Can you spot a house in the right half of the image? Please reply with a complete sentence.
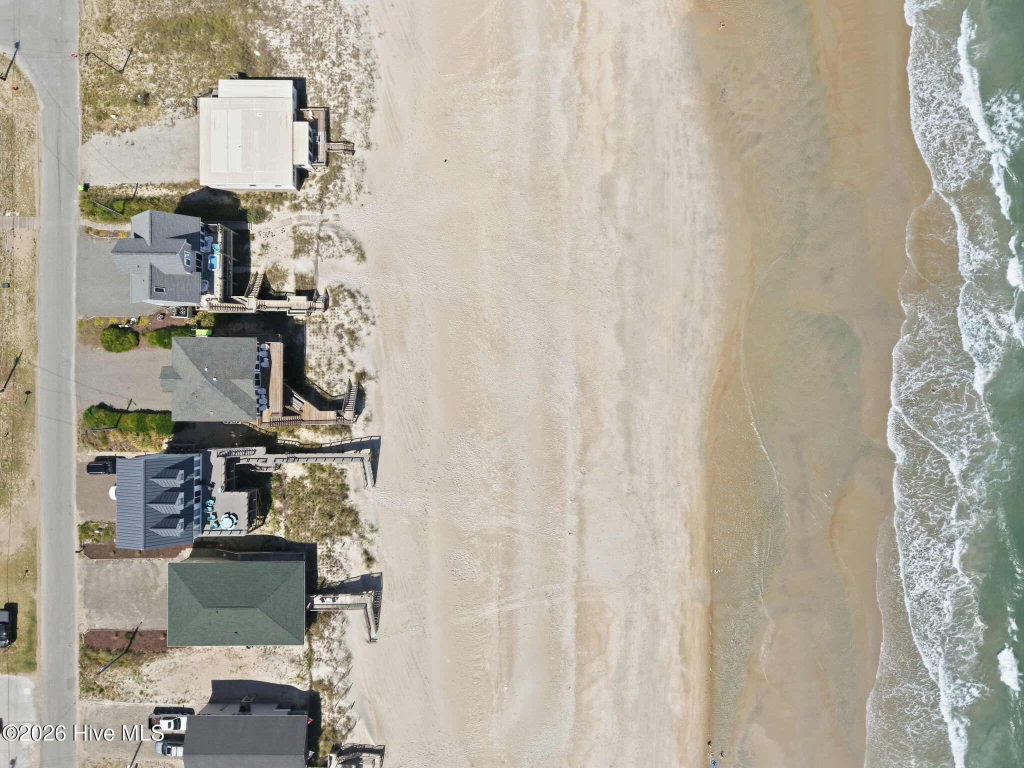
No, I see no house in the right half of the image.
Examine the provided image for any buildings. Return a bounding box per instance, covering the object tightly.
[116,454,202,550]
[180,696,312,768]
[157,336,265,422]
[200,80,313,192]
[167,557,310,646]
[111,210,220,307]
